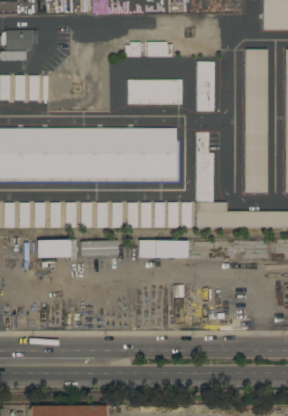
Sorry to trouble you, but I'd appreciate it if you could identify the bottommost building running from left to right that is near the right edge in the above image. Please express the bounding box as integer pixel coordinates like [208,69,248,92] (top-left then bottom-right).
[228,210,288,226]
